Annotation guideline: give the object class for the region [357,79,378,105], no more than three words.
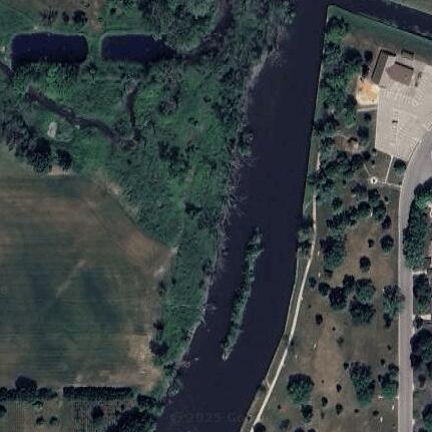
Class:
playground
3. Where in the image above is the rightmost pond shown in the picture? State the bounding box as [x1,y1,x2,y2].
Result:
[101,35,183,62]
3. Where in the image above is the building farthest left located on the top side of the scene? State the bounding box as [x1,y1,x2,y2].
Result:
[370,48,391,81]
